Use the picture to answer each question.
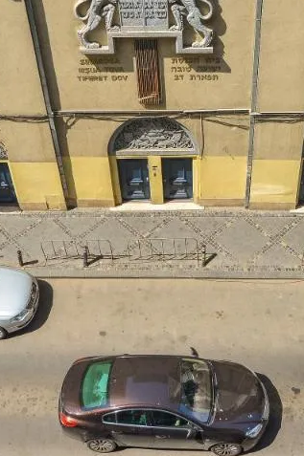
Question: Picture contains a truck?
No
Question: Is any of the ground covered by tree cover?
No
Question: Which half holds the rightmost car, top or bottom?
bottom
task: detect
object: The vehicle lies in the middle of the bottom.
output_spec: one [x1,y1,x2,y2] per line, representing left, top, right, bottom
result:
[57,343,270,456]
